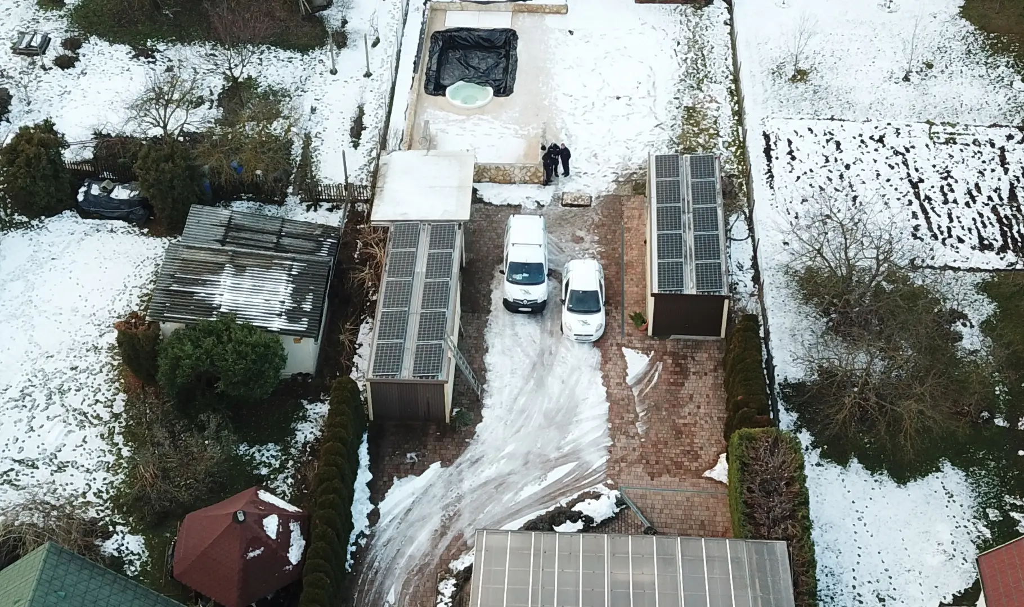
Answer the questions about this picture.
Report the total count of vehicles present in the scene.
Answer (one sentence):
In total, there are 2 vehicles in the scene.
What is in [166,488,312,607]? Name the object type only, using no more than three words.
gazebo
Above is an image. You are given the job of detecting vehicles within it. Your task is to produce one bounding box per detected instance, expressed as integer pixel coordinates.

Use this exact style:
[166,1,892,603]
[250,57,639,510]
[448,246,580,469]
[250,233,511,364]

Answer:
[500,215,553,310]
[558,262,610,340]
